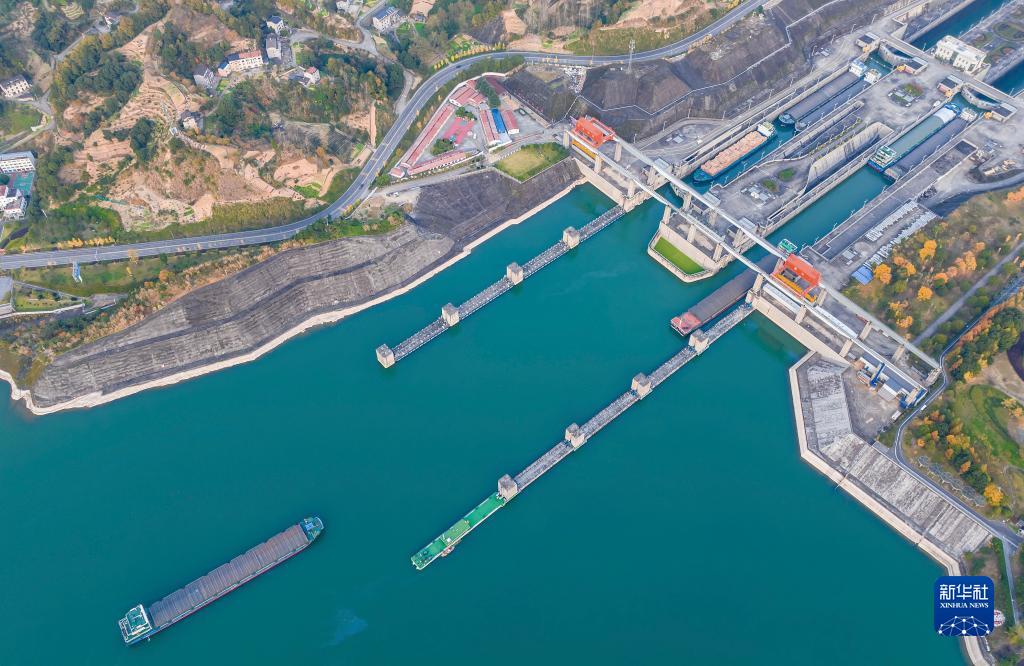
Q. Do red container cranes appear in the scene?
Yes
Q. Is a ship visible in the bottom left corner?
Yes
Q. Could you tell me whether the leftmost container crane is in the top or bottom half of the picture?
top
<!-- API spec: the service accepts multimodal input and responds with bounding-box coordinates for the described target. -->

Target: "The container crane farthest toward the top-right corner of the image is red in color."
[764,249,824,299]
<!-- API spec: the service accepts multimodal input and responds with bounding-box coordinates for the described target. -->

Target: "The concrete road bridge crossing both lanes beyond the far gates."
[880,28,1024,106]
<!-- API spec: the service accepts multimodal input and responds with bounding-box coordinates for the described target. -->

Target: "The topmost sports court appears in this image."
[444,118,475,144]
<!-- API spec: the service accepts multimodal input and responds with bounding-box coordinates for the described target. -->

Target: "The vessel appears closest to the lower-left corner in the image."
[118,520,322,644]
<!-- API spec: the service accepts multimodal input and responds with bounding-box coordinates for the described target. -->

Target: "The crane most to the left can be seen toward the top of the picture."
[566,110,618,159]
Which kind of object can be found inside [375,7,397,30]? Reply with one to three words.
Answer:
house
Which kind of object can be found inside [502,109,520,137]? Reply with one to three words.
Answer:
building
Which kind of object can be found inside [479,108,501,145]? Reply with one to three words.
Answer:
building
